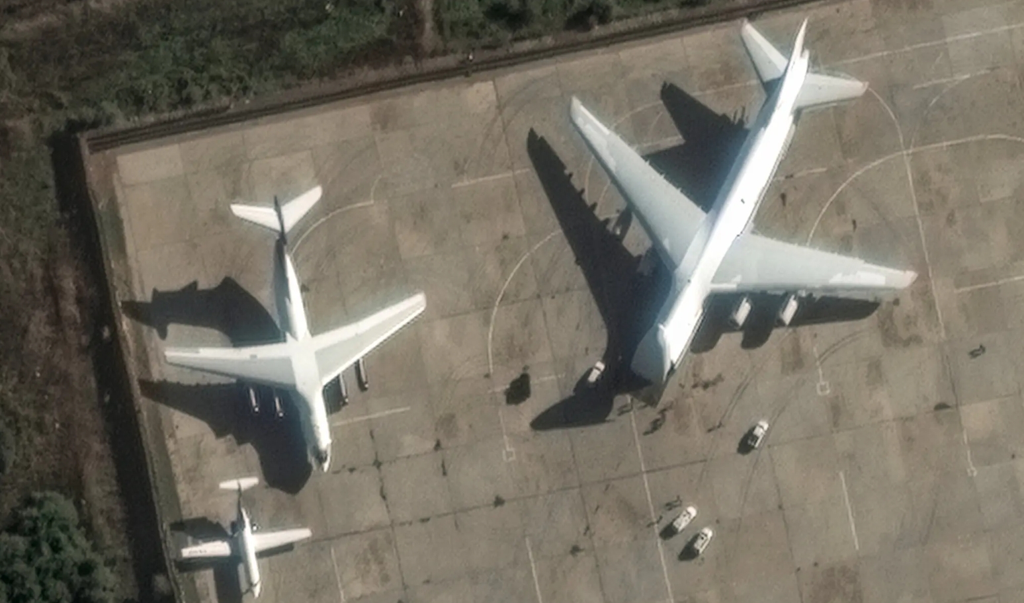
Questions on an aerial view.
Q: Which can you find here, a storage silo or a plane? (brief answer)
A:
plane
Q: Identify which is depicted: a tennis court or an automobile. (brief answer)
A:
automobile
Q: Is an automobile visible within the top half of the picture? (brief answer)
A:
No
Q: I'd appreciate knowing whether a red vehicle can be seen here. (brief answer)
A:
No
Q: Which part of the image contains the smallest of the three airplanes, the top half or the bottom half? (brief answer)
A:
bottom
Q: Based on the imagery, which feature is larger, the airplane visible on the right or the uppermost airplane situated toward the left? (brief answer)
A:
the airplane visible on the right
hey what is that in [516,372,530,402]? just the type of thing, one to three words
car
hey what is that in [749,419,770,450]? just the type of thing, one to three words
truck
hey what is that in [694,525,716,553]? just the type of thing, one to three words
car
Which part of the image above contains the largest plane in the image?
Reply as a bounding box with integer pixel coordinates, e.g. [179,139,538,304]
[568,16,917,407]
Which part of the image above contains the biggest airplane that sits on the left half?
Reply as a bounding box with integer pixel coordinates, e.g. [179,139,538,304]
[164,184,425,470]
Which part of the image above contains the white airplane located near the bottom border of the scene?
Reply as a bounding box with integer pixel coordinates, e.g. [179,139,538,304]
[184,478,313,597]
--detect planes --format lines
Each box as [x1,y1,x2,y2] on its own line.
[164,184,425,470]
[568,16,917,407]
[184,478,313,597]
